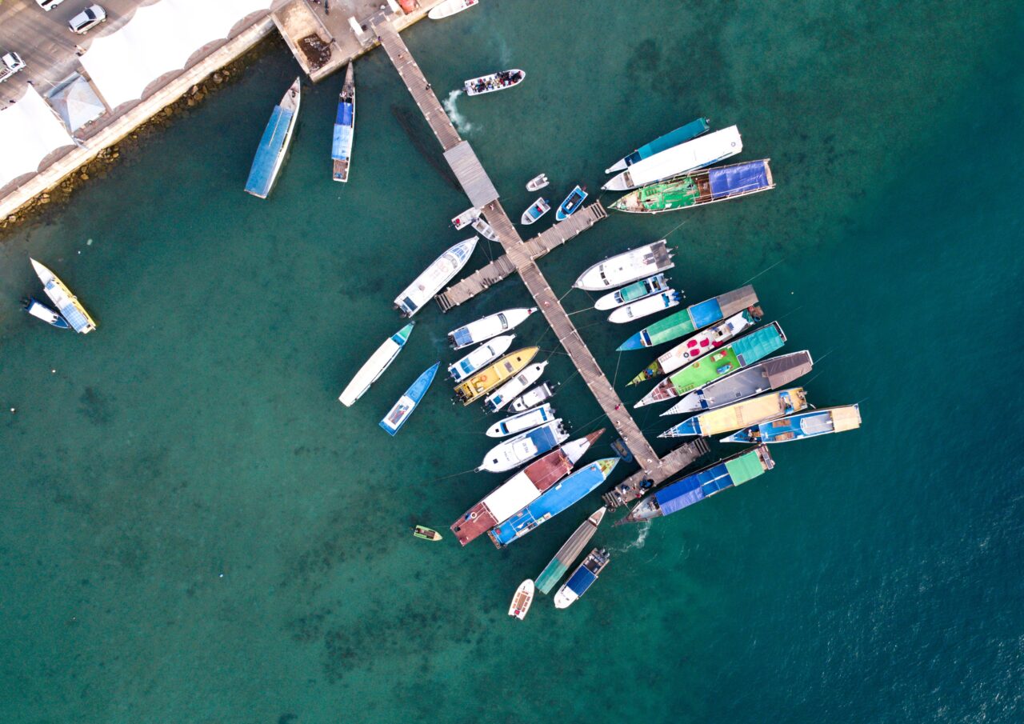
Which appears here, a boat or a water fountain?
boat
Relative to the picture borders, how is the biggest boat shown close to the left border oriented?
on a diagonal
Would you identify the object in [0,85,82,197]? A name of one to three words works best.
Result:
tent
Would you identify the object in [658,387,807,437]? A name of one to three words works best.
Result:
boat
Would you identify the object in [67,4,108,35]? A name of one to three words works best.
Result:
car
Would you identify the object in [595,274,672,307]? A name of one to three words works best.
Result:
boat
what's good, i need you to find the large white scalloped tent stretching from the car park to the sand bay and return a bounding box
[79,0,275,112]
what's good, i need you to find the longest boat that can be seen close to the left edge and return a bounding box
[30,258,100,333]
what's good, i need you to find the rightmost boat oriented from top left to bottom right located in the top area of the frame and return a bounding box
[472,217,498,242]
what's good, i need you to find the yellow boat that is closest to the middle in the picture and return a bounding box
[451,346,539,404]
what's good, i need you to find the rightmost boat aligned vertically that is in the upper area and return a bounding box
[331,58,355,184]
